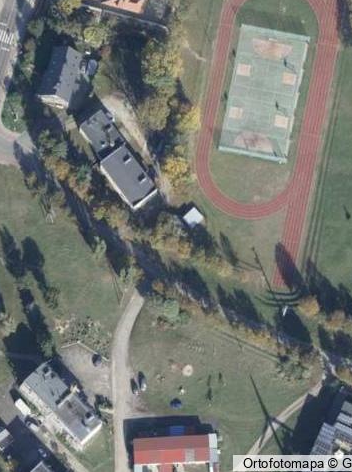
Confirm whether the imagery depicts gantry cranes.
No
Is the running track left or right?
right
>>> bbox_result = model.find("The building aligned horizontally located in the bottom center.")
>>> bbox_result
[133,433,218,472]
